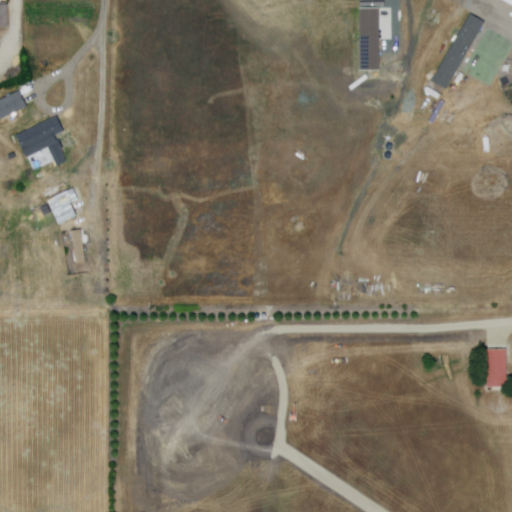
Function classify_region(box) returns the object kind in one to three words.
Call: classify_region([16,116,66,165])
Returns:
house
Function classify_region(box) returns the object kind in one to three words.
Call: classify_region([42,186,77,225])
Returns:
house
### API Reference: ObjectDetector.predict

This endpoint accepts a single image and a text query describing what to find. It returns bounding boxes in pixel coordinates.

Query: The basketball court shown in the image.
[467,30,511,84]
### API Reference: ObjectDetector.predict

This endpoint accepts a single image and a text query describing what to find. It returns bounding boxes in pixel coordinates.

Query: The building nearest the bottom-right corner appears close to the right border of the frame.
[488,350,508,387]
